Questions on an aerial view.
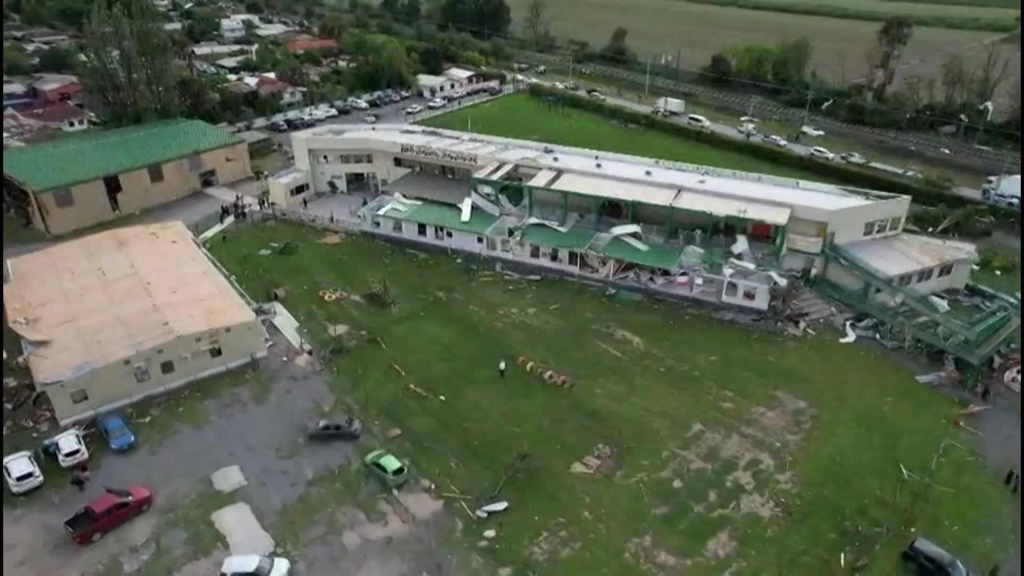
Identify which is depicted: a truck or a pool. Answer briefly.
truck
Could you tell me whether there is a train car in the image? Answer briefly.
No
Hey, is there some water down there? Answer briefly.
No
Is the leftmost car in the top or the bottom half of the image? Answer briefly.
bottom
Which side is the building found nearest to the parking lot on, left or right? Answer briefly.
left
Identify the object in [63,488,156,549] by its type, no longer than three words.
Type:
truck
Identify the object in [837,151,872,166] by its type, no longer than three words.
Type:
vehicle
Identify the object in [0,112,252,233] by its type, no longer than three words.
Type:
building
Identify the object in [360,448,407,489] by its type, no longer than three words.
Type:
car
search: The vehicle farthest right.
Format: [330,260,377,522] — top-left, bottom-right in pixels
[976,176,1024,209]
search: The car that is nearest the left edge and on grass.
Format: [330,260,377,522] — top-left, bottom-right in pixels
[0,452,45,498]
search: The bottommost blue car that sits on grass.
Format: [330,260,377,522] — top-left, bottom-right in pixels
[91,412,137,454]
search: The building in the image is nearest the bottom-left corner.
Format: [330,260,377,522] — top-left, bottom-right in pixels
[14,215,270,428]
